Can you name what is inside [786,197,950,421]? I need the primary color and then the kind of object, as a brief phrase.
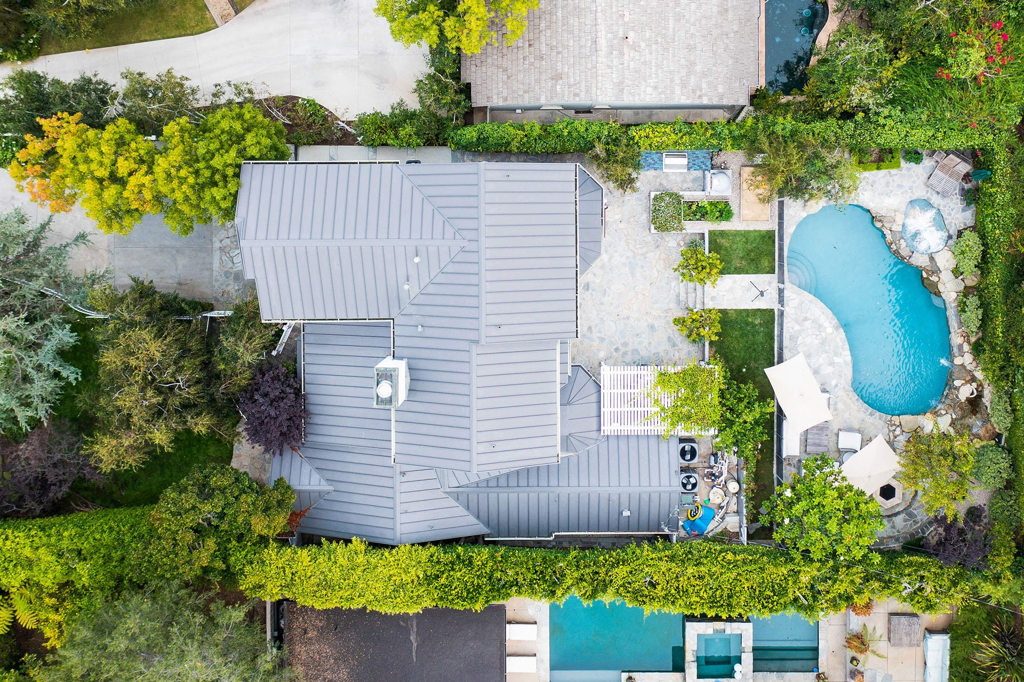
blue swimming pool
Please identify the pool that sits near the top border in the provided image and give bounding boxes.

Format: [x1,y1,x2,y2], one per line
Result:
[765,0,830,99]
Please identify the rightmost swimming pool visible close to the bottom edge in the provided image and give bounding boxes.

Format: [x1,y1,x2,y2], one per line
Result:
[750,581,818,673]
